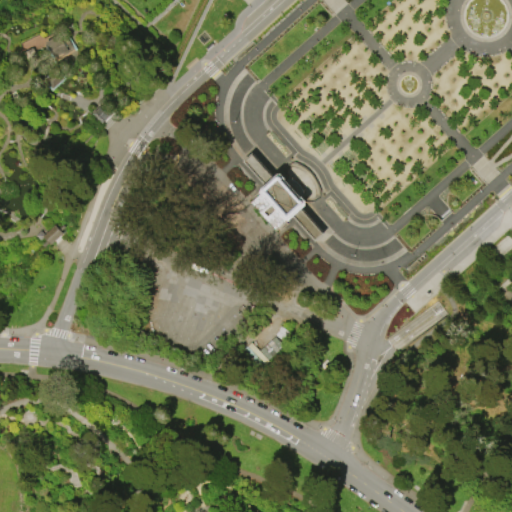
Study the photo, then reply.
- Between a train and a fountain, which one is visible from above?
fountain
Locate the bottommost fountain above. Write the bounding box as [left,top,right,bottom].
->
[398,72,422,96]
